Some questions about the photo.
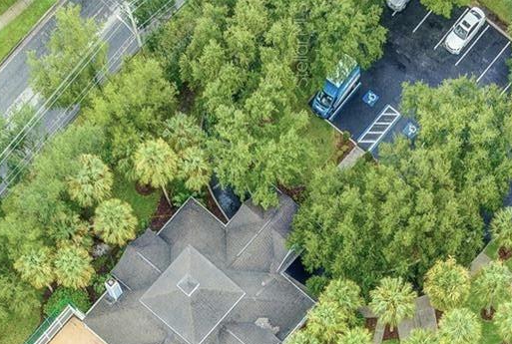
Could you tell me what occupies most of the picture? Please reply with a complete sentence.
The scene is dominated by trees.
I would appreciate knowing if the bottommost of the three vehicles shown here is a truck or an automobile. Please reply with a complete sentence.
What you see as the bottommost of the three vehicles is a truck.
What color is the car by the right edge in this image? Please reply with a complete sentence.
The color of the car by the right edge is white.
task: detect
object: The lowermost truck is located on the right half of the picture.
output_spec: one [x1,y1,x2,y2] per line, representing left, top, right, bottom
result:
[313,51,361,126]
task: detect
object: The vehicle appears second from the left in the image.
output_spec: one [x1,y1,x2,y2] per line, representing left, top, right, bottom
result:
[387,0,409,12]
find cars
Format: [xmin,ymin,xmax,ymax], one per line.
[449,0,487,50]
[387,0,409,12]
